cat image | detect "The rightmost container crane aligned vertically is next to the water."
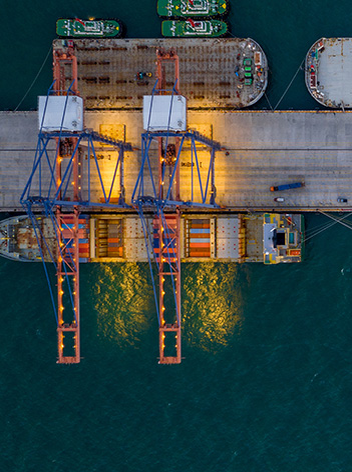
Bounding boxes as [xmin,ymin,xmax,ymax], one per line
[130,53,222,365]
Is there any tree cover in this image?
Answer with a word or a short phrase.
No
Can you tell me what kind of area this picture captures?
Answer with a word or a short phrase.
port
